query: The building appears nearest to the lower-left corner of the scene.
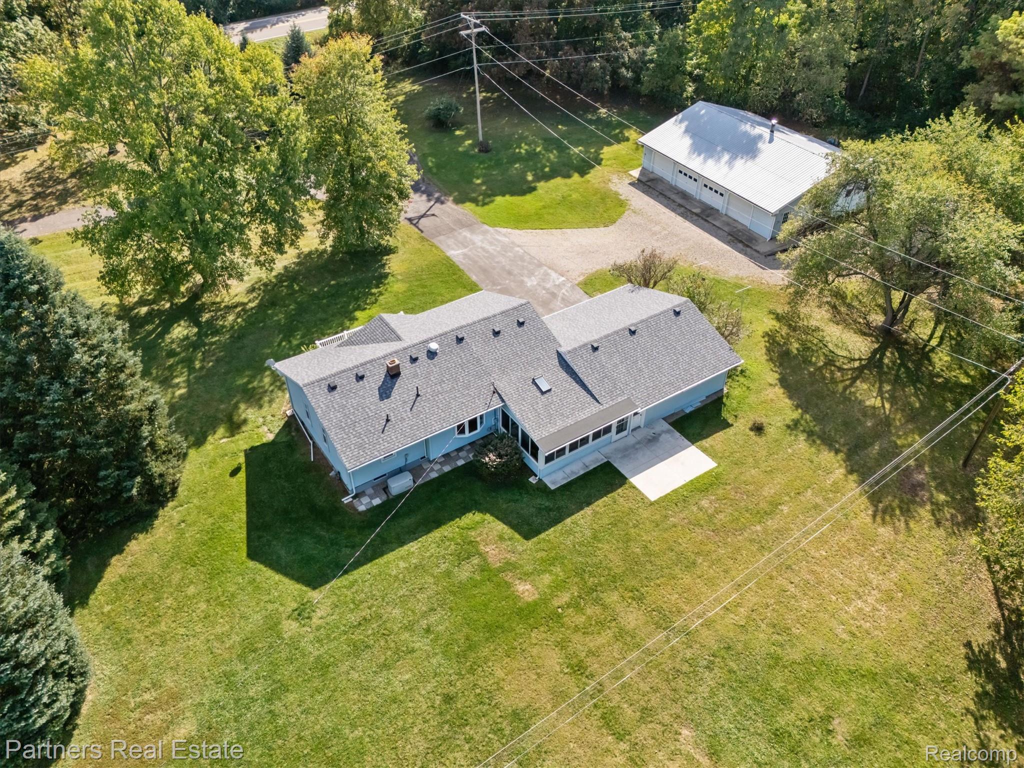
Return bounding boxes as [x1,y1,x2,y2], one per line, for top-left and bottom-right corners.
[274,284,743,499]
